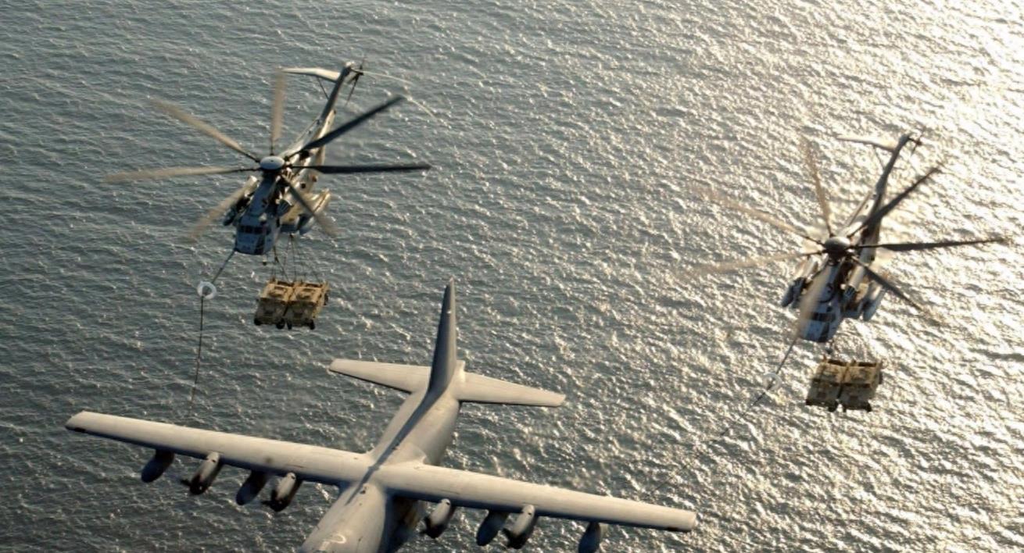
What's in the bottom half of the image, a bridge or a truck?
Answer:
truck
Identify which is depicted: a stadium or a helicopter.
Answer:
helicopter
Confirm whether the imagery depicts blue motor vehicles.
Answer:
No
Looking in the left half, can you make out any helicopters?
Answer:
Yes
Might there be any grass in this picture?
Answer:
No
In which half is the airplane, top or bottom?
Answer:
bottom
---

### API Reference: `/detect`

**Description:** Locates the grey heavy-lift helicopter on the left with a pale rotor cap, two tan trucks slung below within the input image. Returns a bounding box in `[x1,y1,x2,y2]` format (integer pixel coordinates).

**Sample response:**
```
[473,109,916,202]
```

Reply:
[109,42,434,293]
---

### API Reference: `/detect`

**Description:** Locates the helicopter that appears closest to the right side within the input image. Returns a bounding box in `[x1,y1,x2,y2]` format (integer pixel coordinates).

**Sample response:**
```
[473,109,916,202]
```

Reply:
[678,112,1006,383]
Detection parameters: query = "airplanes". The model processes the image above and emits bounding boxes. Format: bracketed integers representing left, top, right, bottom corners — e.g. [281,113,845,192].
[68,273,702,553]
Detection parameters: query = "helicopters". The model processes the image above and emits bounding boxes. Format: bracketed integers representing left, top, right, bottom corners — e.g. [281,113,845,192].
[109,42,434,293]
[678,112,1006,383]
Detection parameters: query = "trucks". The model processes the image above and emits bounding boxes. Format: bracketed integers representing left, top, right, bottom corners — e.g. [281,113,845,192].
[256,274,299,325]
[837,358,881,410]
[808,355,852,406]
[284,278,329,327]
